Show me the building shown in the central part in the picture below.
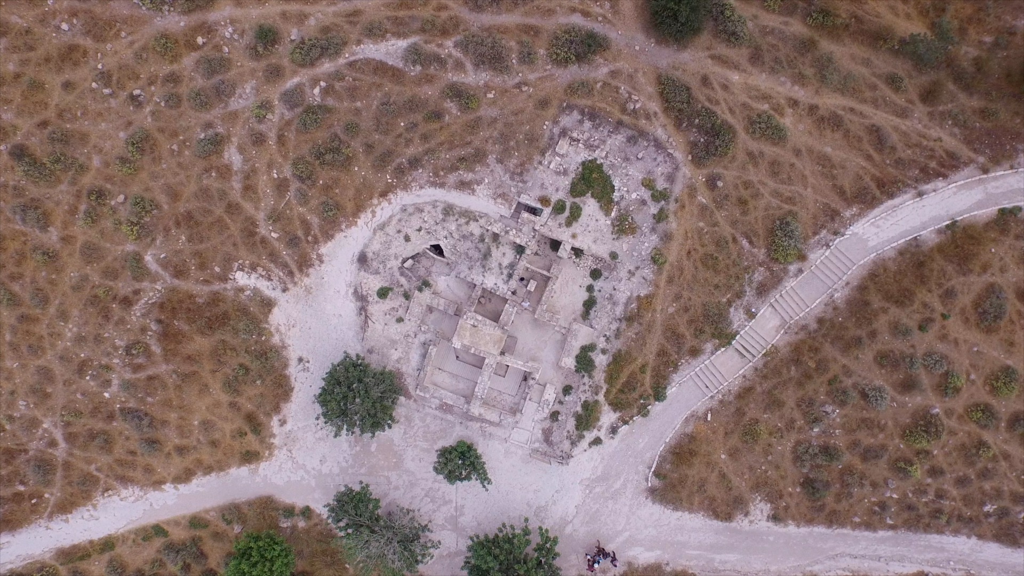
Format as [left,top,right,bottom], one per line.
[452,309,509,362]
